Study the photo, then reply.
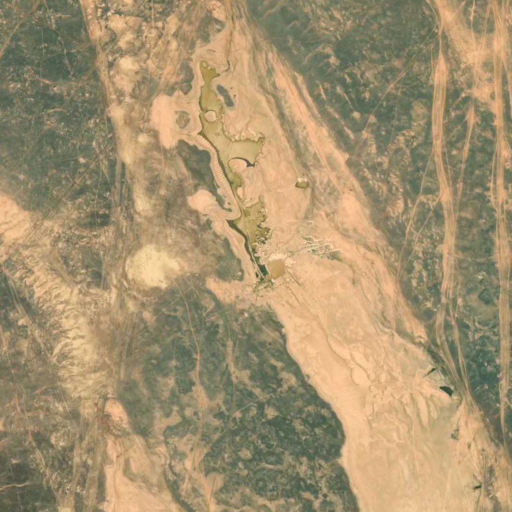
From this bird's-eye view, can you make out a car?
No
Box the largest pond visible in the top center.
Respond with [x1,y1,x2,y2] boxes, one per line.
[199,61,264,199]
